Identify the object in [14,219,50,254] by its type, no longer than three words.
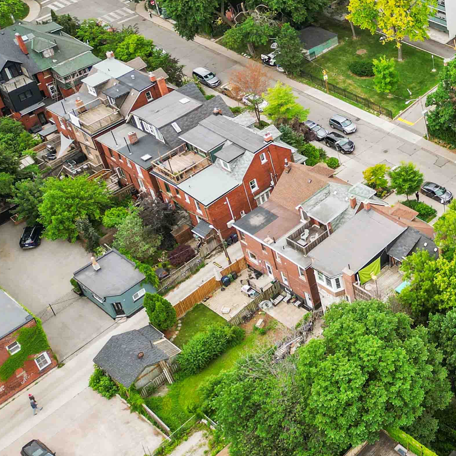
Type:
car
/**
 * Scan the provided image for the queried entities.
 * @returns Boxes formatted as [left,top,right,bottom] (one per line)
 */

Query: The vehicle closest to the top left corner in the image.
[191,66,222,88]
